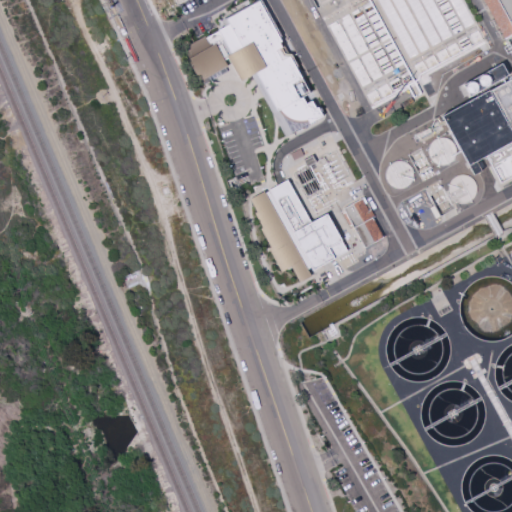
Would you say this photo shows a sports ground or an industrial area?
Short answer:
industrial area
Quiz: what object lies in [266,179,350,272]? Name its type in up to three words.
building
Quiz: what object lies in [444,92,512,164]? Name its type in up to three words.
building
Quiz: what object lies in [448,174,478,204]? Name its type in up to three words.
storage tank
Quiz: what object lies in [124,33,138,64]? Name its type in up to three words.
vehicle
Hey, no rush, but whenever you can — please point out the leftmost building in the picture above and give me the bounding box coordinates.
[188,37,229,83]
